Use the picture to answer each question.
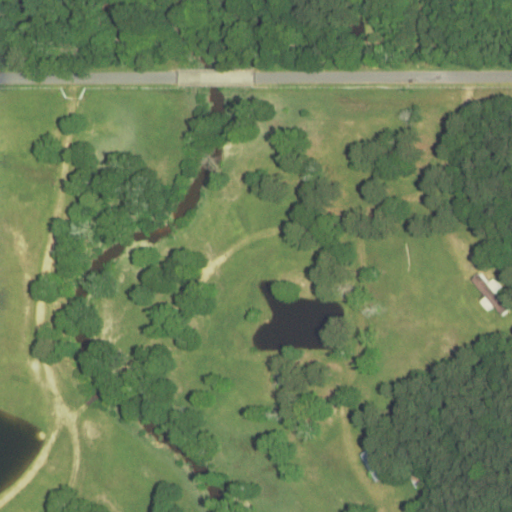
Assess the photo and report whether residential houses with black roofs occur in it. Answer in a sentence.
No, no residential house with a black roof is visible in the view.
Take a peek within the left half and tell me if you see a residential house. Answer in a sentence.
No, there's no residential house to be seen within the left half.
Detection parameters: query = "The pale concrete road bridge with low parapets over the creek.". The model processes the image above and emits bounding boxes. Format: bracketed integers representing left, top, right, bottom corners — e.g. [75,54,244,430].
[176,70,255,86]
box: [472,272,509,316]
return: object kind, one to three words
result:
house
